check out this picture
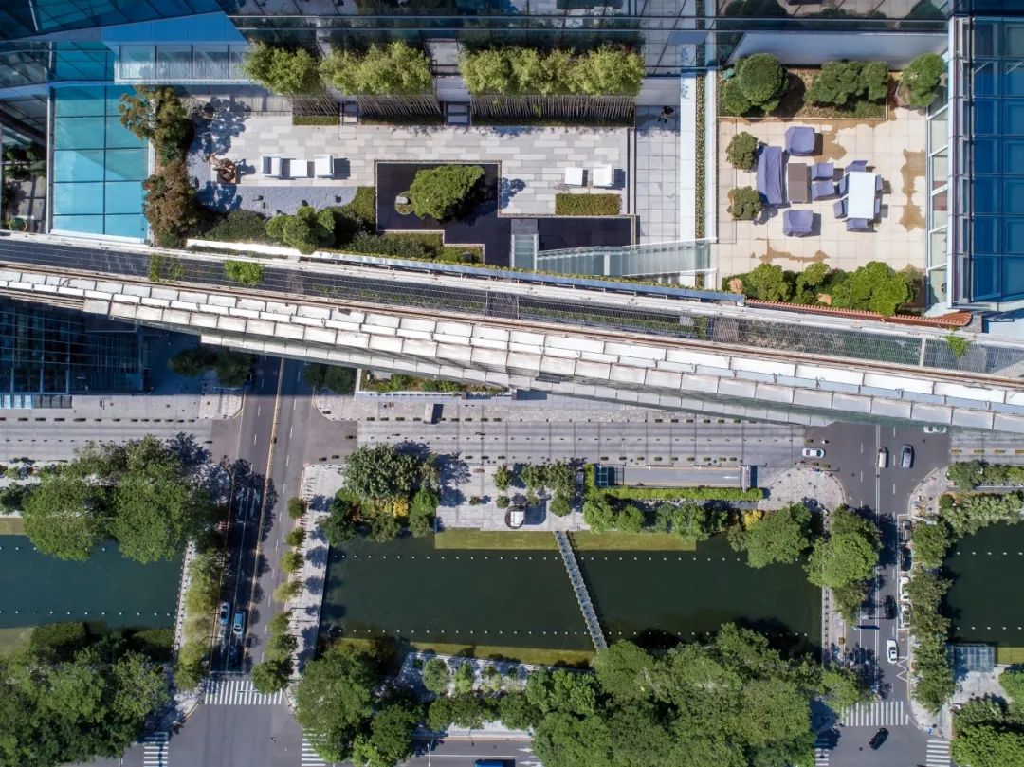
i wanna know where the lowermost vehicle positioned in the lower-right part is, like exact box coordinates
[869,727,888,750]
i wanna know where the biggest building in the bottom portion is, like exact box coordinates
[944,638,994,671]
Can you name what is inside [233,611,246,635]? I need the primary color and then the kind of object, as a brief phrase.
blue vehicle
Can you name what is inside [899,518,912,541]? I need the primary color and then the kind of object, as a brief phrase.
gray vehicle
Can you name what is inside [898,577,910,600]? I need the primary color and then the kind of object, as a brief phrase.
white vehicle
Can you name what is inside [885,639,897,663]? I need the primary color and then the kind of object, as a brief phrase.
white vehicle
